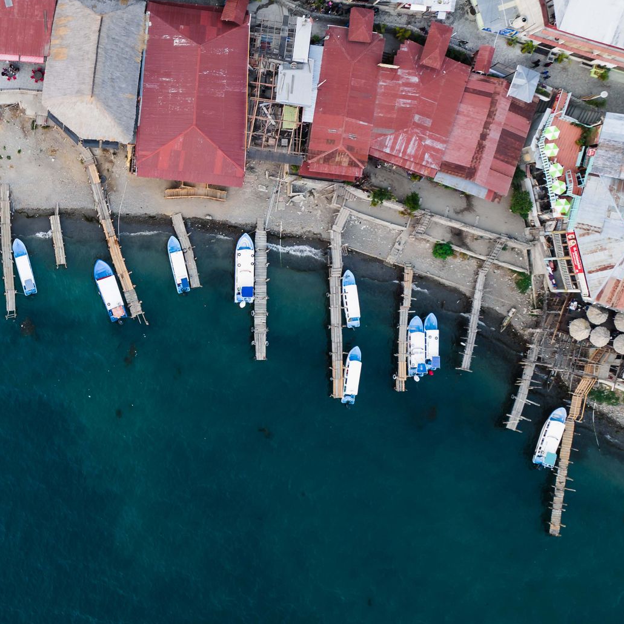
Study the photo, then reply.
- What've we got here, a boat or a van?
boat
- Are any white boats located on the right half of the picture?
Yes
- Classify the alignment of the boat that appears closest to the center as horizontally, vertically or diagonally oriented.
vertically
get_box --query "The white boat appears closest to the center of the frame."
[342,270,362,330]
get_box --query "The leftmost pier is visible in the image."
[0,185,17,319]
